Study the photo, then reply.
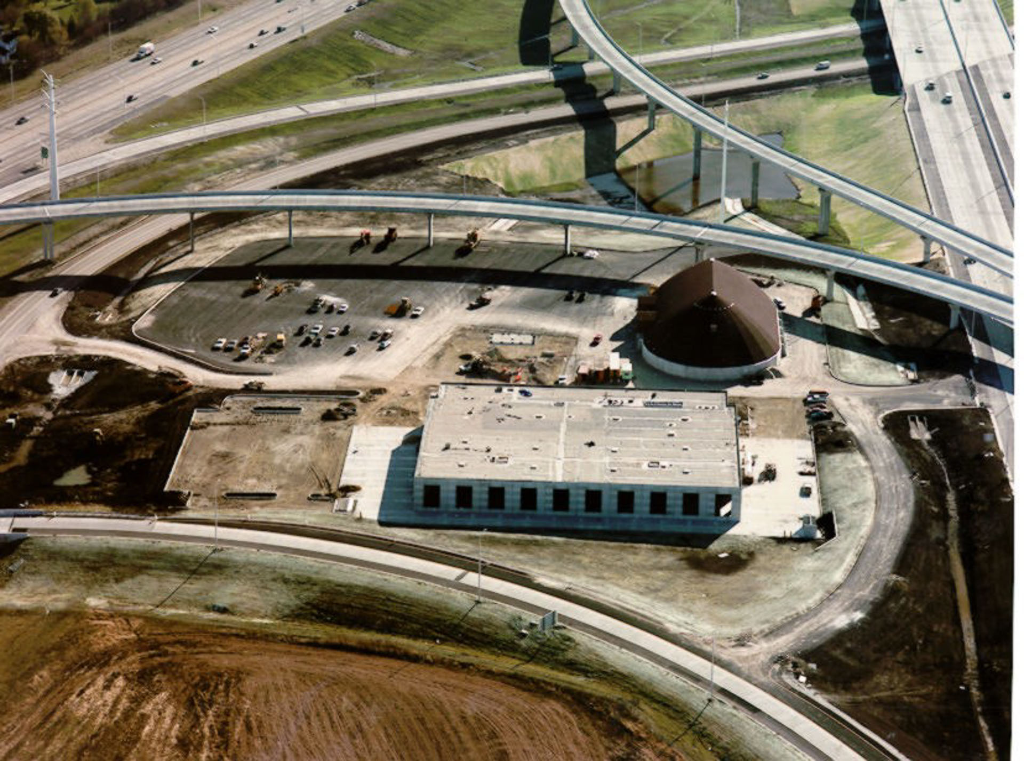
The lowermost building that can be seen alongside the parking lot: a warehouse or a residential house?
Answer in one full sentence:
Looking closely, the lowermost building that can be seen alongside the parking lot is a warehouse.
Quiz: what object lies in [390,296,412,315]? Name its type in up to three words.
vehicle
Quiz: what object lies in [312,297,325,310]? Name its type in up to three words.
vehicle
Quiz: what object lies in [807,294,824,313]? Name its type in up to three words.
work vehicle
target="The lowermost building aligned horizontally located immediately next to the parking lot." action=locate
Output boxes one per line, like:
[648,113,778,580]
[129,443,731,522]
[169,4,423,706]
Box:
[414,384,741,521]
